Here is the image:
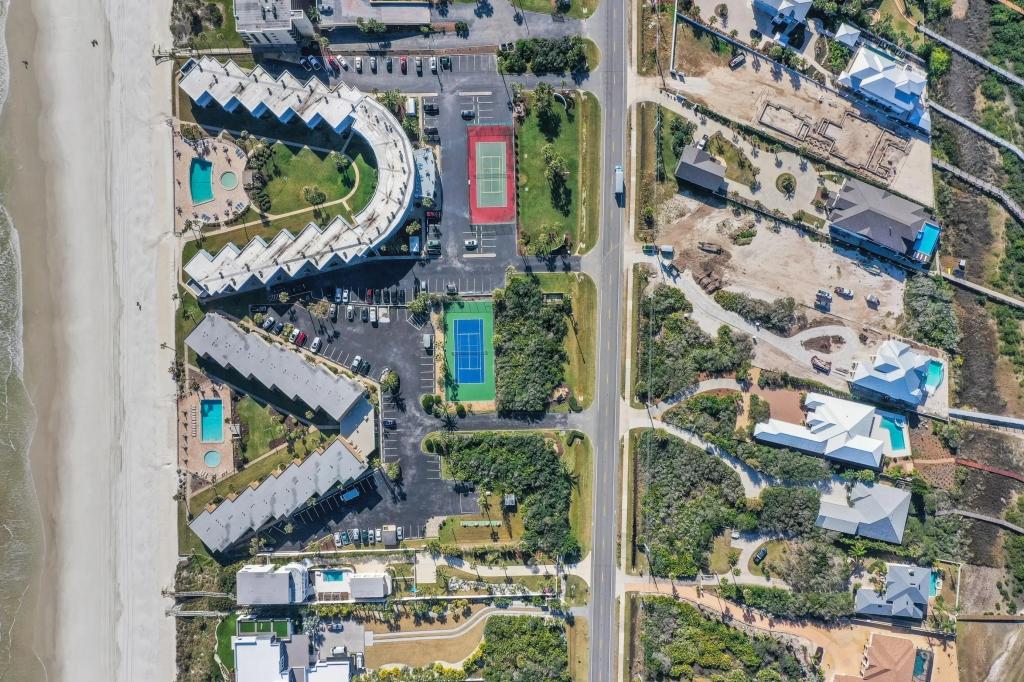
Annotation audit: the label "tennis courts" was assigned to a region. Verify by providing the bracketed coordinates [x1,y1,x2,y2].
[467,124,516,224]
[443,301,495,402]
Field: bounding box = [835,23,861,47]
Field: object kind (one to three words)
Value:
gazebo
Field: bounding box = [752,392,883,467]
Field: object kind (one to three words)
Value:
house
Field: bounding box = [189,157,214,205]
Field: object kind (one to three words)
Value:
swimming pool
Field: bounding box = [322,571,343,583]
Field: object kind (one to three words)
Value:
swimming pool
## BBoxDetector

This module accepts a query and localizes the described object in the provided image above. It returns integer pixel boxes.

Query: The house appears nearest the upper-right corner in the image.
[836,47,927,117]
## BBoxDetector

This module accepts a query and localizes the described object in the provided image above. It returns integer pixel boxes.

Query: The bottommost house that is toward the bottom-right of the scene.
[829,627,914,682]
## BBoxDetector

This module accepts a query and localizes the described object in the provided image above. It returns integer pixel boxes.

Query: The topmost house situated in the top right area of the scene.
[750,0,812,47]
